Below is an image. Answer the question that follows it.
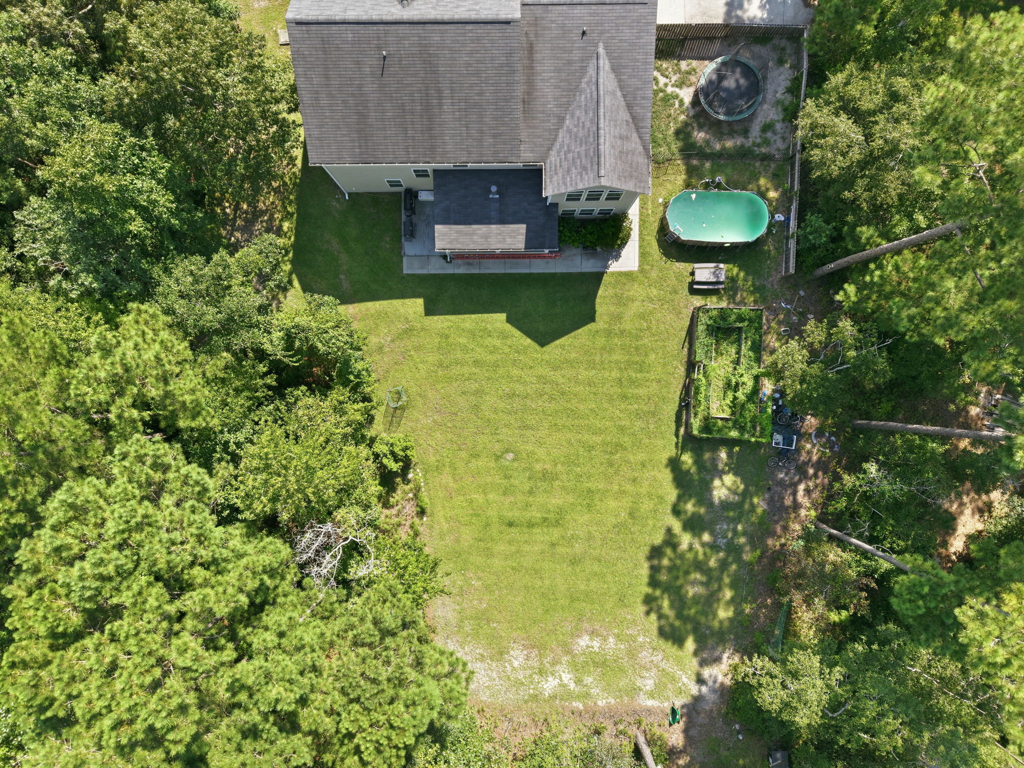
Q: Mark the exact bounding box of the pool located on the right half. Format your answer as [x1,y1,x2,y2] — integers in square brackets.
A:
[661,190,768,253]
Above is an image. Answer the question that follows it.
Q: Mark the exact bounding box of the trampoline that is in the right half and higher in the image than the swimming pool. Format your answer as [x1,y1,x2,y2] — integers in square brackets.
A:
[694,42,770,124]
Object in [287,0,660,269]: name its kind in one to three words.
house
